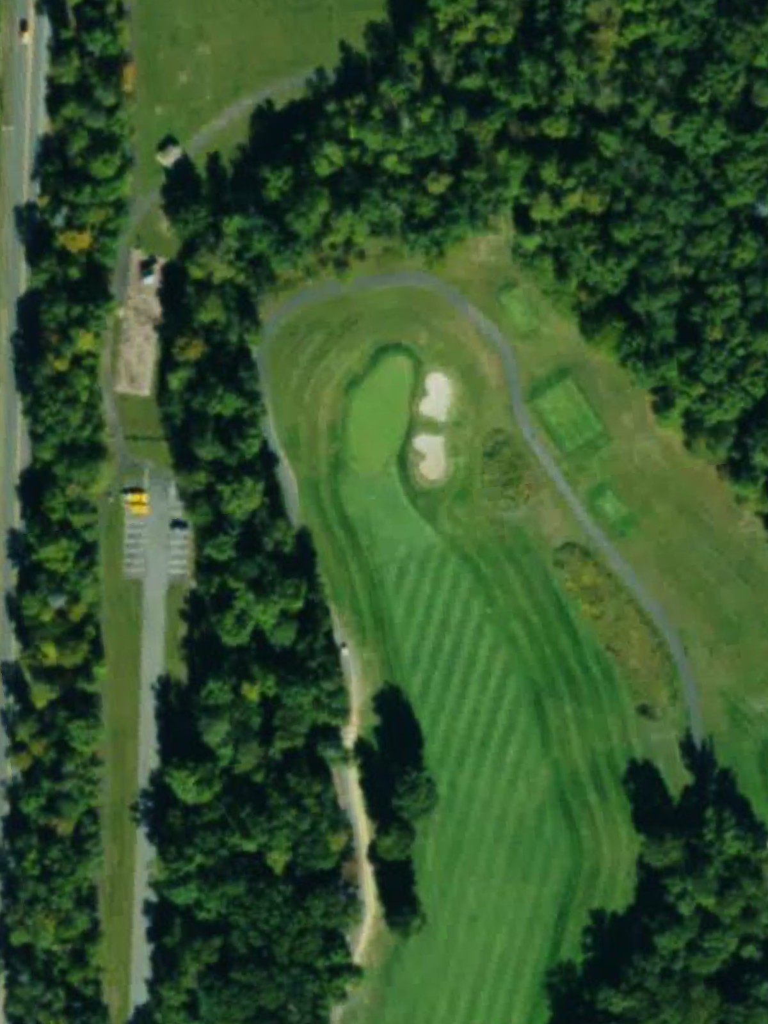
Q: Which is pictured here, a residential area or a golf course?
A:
golf course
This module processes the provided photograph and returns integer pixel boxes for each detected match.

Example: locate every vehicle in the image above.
[21,21,29,43]
[126,504,150,513]
[342,647,347,656]
[170,522,188,530]
[124,493,148,501]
